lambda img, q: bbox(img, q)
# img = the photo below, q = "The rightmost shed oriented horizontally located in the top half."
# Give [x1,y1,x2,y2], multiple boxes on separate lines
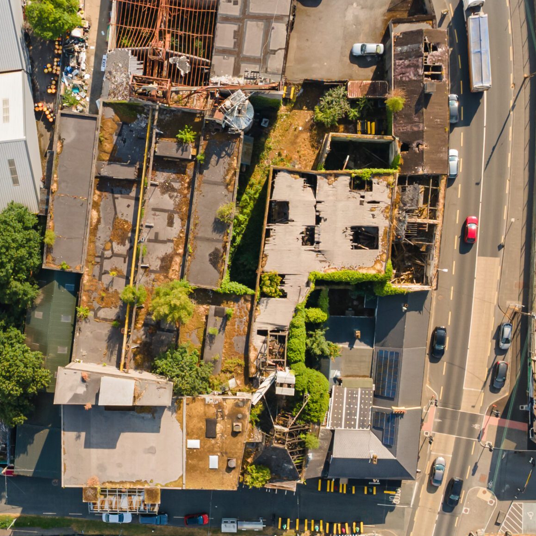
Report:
[347,81,387,98]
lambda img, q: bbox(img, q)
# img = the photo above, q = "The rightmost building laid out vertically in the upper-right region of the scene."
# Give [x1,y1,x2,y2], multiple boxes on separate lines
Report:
[388,30,449,175]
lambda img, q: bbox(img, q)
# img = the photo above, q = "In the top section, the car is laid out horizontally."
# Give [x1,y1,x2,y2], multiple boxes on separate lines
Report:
[352,42,383,57]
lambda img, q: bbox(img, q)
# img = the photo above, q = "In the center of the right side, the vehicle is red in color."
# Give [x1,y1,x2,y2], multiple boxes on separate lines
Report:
[463,215,479,243]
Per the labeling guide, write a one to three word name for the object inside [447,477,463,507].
car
